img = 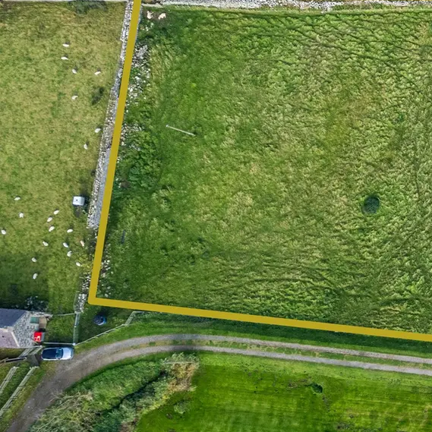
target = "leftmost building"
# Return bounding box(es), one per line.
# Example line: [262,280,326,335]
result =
[0,303,37,344]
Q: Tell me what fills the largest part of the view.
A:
grass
